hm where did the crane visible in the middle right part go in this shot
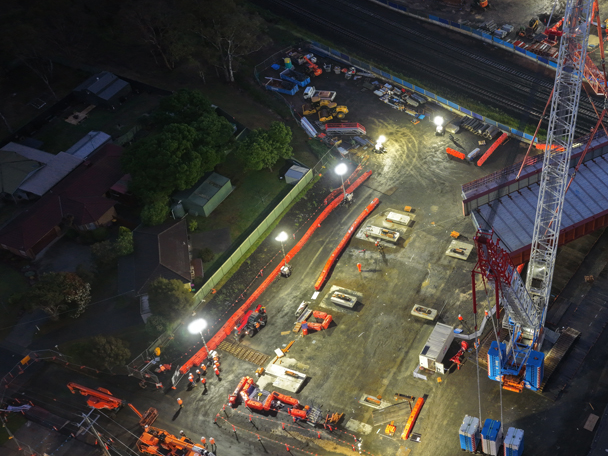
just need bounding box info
[470,0,597,429]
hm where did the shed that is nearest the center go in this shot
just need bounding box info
[285,165,310,186]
